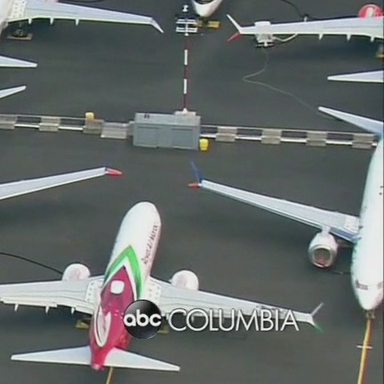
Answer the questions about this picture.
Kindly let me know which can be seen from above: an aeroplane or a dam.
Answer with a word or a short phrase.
aeroplane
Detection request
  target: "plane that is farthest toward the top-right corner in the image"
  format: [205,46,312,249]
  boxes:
[231,7,384,84]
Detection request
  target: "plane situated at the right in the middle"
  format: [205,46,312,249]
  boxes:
[194,103,384,315]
